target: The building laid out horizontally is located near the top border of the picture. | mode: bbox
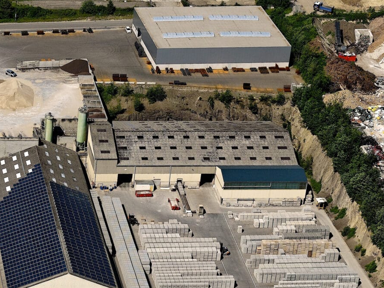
[139,4,292,69]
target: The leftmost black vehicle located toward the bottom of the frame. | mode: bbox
[127,212,141,225]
